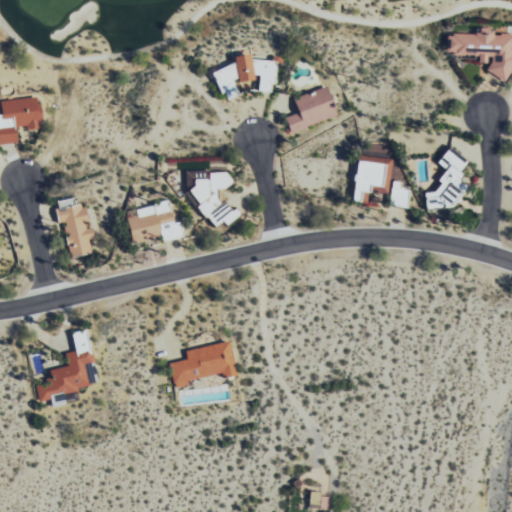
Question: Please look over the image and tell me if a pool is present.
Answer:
Yes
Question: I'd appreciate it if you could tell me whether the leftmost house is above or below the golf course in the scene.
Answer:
below it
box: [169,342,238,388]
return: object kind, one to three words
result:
house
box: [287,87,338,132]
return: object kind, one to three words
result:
house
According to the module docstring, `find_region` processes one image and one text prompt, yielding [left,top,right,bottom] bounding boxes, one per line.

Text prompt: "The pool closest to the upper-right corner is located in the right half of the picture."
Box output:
[409,157,437,190]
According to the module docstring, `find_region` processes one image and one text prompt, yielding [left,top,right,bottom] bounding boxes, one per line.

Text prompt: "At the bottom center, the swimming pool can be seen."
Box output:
[178,384,230,408]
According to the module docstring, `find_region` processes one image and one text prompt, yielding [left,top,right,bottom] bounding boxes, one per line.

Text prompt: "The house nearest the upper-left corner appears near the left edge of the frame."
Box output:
[0,97,42,143]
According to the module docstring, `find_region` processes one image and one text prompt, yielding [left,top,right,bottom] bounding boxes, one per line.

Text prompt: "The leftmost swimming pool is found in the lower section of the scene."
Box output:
[30,353,47,378]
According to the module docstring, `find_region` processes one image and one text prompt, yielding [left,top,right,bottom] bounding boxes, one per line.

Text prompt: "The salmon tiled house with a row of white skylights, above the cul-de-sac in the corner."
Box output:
[449,25,512,82]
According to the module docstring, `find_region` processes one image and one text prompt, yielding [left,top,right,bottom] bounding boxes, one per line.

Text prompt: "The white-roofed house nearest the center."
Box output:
[186,171,242,227]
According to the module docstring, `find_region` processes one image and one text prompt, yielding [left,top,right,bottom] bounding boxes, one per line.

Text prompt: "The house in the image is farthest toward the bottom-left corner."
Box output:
[35,330,98,408]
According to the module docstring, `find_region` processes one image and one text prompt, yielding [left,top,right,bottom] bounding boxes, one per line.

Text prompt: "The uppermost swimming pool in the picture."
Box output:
[289,61,322,91]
